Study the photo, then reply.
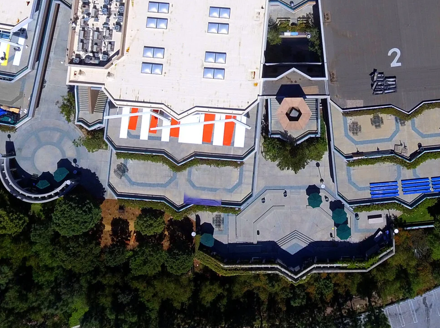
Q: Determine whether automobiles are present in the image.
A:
No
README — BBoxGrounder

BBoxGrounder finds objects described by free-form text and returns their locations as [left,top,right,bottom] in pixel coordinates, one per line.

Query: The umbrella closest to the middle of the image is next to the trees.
[195,230,217,252]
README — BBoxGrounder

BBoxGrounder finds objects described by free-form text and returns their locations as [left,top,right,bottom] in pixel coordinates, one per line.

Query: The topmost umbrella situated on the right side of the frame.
[304,190,325,211]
